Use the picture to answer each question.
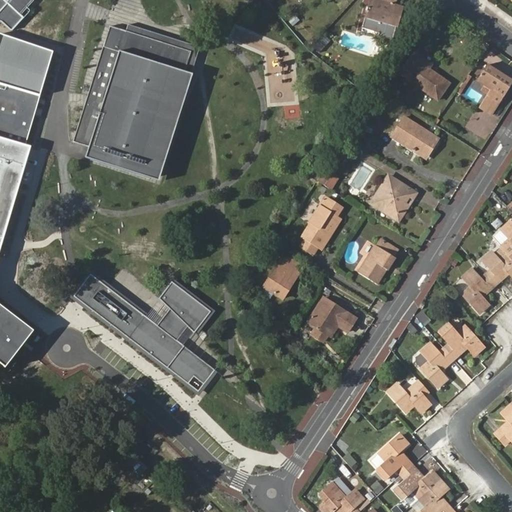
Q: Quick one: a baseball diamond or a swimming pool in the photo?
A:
swimming pool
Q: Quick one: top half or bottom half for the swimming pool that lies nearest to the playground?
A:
top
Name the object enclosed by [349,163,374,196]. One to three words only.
swimming pool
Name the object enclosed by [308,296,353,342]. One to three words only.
house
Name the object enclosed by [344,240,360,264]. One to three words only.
swimming pool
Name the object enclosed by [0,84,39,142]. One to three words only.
building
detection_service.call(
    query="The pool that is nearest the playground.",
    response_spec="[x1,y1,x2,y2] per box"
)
[340,31,380,56]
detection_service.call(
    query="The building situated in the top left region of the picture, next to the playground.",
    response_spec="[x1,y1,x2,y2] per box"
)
[73,26,197,183]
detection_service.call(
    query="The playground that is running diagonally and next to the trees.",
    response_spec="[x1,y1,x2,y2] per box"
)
[228,25,299,107]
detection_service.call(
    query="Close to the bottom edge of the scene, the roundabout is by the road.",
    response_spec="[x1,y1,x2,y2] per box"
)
[252,471,296,512]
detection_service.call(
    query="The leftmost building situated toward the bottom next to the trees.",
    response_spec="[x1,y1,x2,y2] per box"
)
[0,303,34,372]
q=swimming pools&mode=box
[466,88,484,104]
[349,163,374,196]
[340,31,380,56]
[344,240,360,264]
